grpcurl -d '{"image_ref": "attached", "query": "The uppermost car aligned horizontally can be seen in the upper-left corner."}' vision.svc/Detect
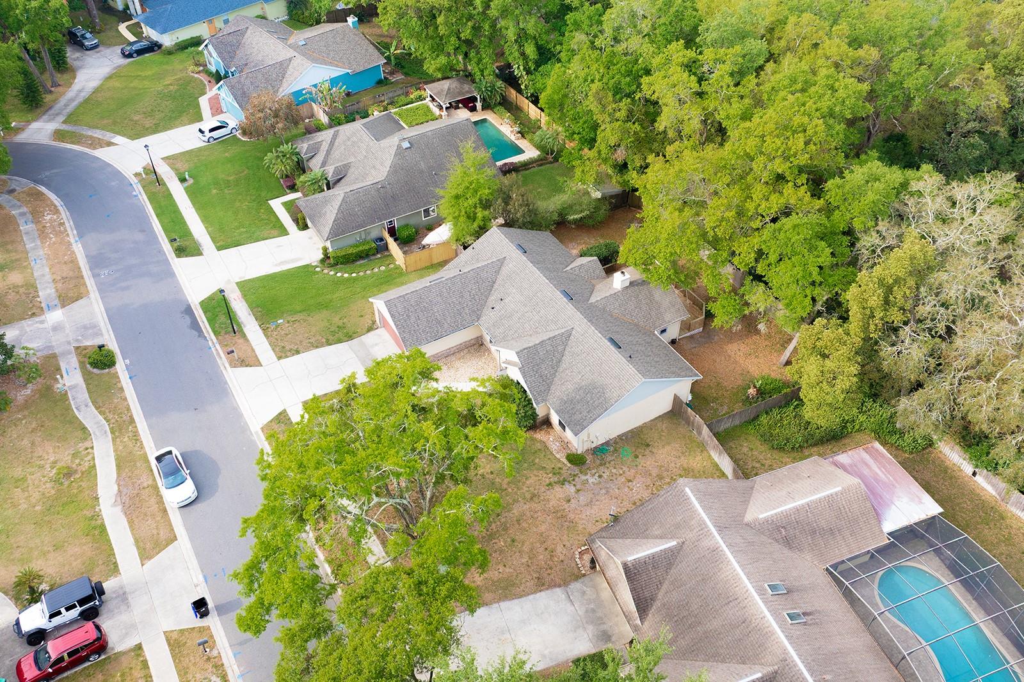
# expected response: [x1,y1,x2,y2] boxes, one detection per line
[121,38,160,57]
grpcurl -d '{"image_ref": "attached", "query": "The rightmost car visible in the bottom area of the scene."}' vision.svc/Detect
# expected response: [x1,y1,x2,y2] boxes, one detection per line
[156,450,199,509]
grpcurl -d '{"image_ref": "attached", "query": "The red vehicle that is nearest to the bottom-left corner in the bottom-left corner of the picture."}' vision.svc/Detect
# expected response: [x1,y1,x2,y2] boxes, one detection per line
[19,622,109,682]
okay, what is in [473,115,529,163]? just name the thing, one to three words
swimming pool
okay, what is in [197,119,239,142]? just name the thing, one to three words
car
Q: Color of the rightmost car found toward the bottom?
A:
white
